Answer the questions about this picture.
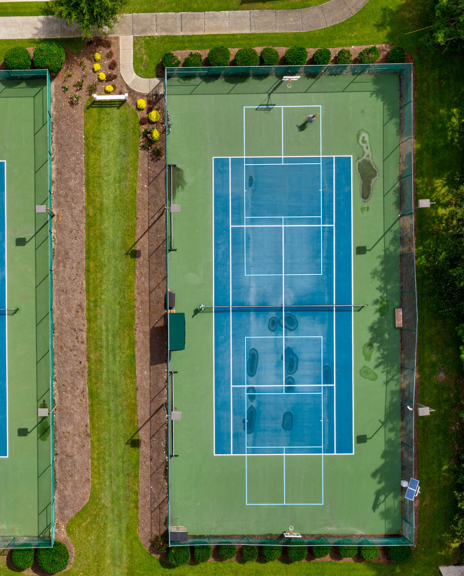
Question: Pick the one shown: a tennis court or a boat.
tennis court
